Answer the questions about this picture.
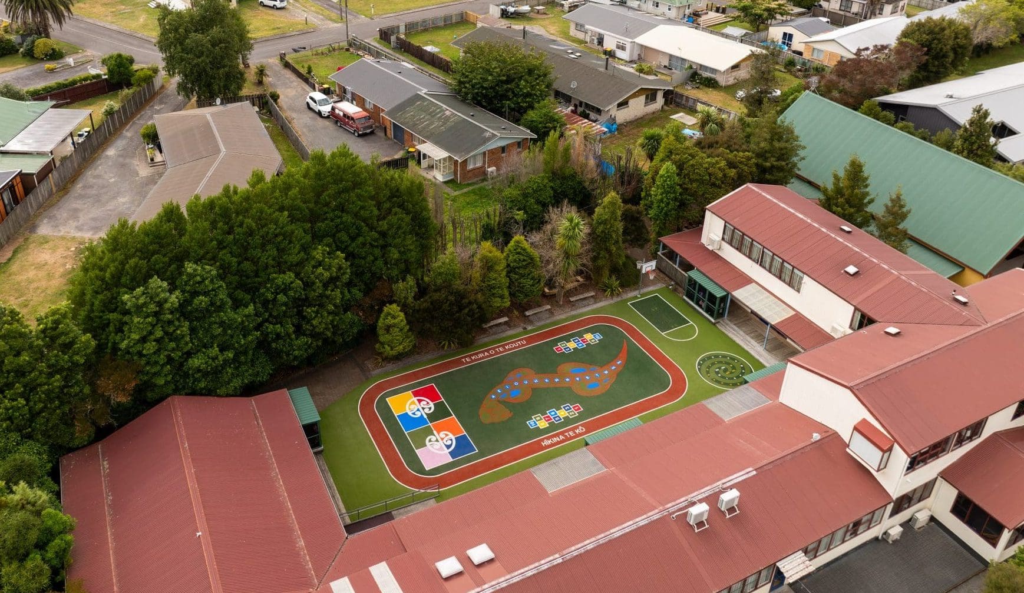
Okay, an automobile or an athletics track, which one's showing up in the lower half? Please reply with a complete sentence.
You can see an athletics track in the lower half.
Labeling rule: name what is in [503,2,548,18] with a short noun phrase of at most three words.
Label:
boat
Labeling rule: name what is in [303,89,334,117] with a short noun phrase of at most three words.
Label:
car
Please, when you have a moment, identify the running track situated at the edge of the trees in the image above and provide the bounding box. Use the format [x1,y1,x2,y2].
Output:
[361,313,685,489]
